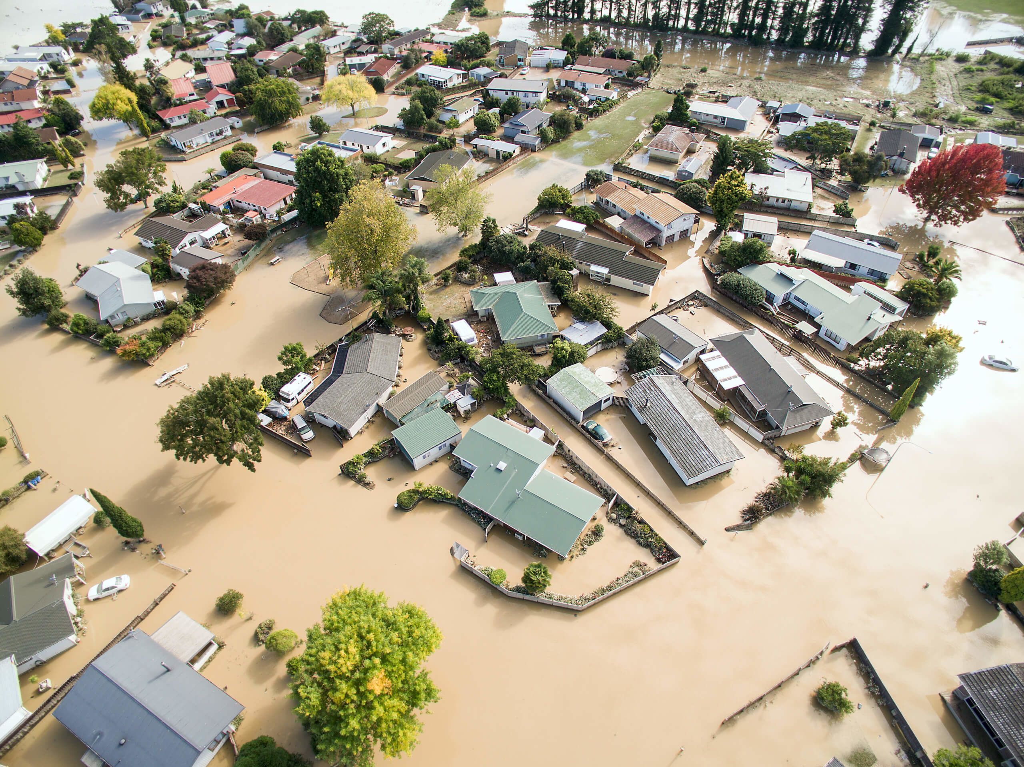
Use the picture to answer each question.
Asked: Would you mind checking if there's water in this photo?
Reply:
Yes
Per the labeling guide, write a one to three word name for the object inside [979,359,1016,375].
car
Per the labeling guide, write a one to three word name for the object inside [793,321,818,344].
gazebo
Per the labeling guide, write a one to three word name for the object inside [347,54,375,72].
building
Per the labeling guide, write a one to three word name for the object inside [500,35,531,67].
house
